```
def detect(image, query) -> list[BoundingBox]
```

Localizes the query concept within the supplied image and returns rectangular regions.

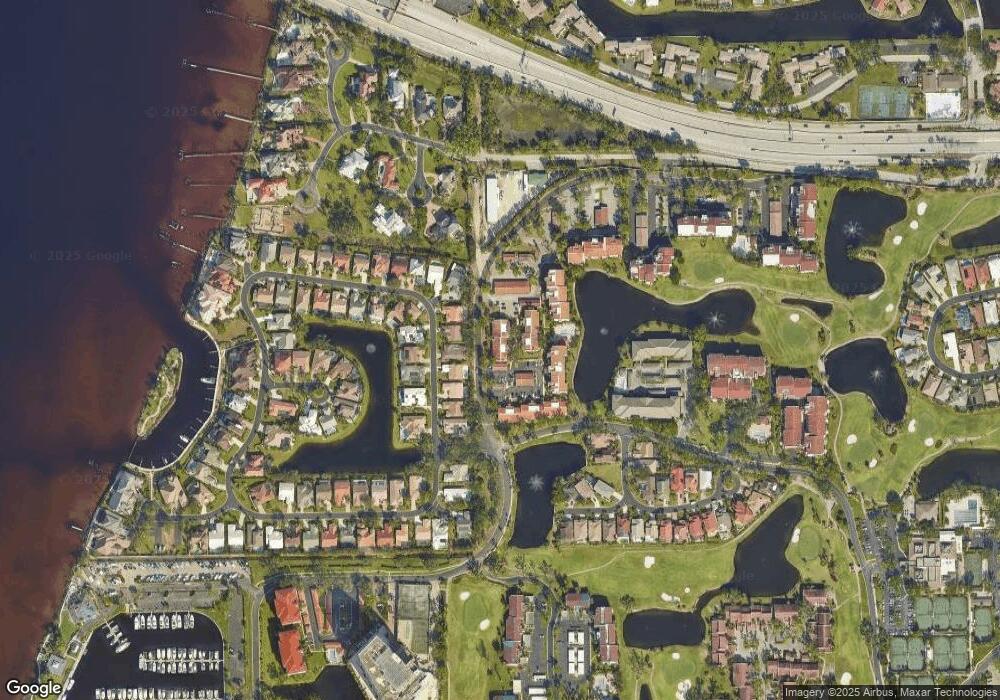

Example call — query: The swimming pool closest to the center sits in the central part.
[555,323,575,338]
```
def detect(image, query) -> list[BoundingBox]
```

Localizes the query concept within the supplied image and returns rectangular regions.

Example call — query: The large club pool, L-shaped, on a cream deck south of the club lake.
[944,493,983,528]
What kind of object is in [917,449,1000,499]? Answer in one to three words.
pond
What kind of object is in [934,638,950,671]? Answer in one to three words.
tennis court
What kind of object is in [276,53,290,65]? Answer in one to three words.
swimming pool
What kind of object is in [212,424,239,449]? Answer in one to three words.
house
